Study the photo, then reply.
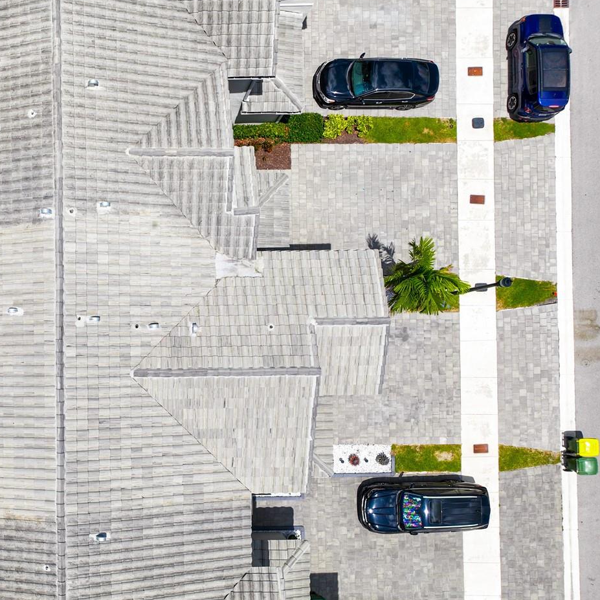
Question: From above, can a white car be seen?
No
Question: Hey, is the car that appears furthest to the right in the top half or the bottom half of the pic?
top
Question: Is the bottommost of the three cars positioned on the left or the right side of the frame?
right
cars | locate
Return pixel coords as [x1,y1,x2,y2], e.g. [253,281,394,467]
[313,59,438,116]
[505,13,572,122]
[357,476,490,533]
